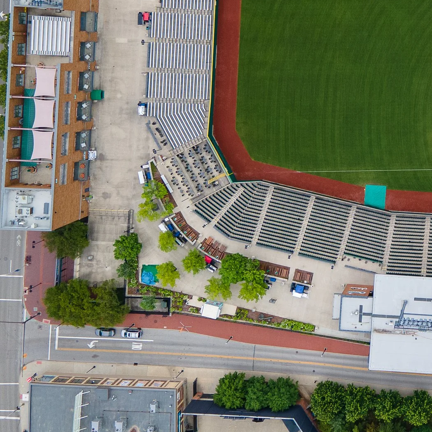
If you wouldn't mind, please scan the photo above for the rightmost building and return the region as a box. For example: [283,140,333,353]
[333,286,374,334]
